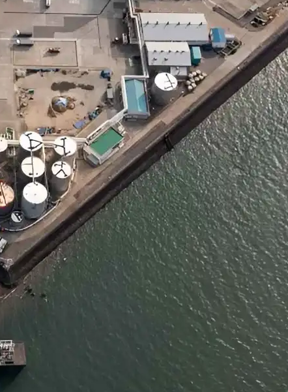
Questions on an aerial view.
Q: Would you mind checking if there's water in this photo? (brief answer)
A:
Yes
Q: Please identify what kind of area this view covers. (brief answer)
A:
industrial area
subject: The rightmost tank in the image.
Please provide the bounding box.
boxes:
[149,72,178,106]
